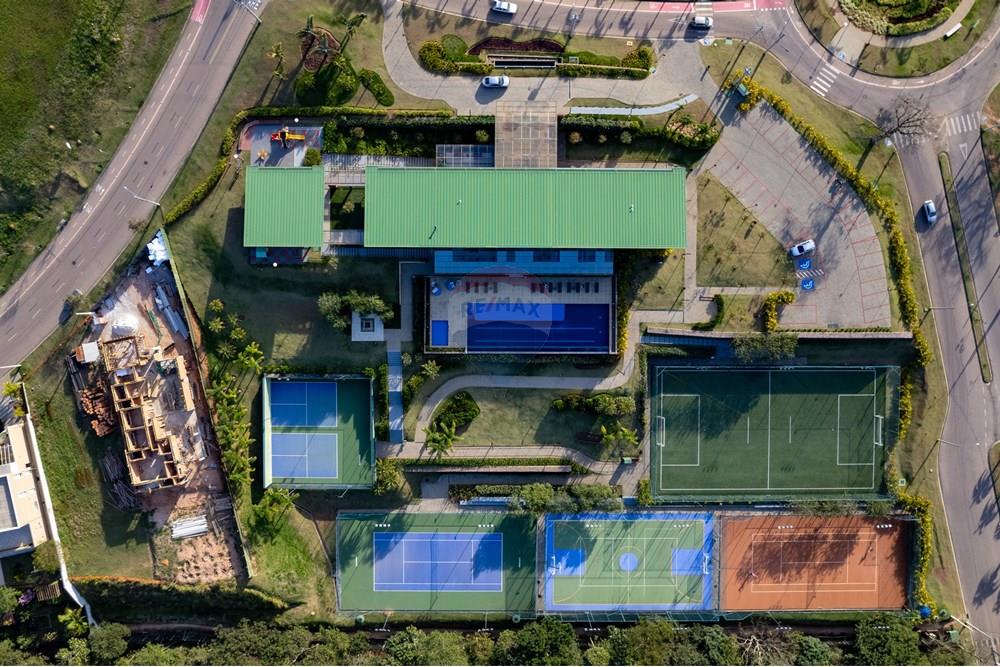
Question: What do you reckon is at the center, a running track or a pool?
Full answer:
There is a pool at the center.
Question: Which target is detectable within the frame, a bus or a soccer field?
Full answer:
Visible in the photo is a soccer field.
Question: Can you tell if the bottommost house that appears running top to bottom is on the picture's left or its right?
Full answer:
The bottommost house that appears running top to bottom is on the left side of the image.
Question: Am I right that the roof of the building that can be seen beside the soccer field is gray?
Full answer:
No, from above the roof of the building that can be seen beside the soccer field looks green.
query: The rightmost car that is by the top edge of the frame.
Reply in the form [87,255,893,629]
[691,14,717,27]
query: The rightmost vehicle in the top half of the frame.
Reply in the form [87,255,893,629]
[924,197,941,224]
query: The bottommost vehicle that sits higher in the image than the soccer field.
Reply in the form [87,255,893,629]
[791,240,817,255]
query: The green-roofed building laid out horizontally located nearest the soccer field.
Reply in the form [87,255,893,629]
[364,166,688,275]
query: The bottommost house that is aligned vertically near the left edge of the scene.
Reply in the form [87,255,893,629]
[0,422,57,559]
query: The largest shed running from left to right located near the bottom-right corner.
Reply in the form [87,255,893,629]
[909,617,954,641]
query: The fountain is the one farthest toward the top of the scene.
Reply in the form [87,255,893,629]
[488,55,562,68]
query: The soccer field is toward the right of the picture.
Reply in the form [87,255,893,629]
[648,366,886,494]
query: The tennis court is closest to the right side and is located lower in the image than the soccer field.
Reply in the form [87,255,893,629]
[722,516,912,609]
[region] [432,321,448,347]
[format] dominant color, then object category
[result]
blue swimming pool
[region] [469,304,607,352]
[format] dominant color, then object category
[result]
blue swimming pool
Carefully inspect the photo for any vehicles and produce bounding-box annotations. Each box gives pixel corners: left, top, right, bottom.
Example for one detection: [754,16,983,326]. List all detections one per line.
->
[691,14,717,27]
[483,73,508,86]
[791,240,817,255]
[492,0,519,12]
[924,197,941,224]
